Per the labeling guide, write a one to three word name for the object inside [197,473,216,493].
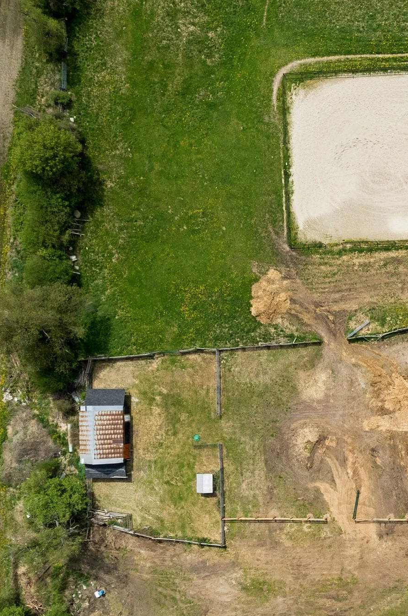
shed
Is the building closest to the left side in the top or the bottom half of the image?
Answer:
bottom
